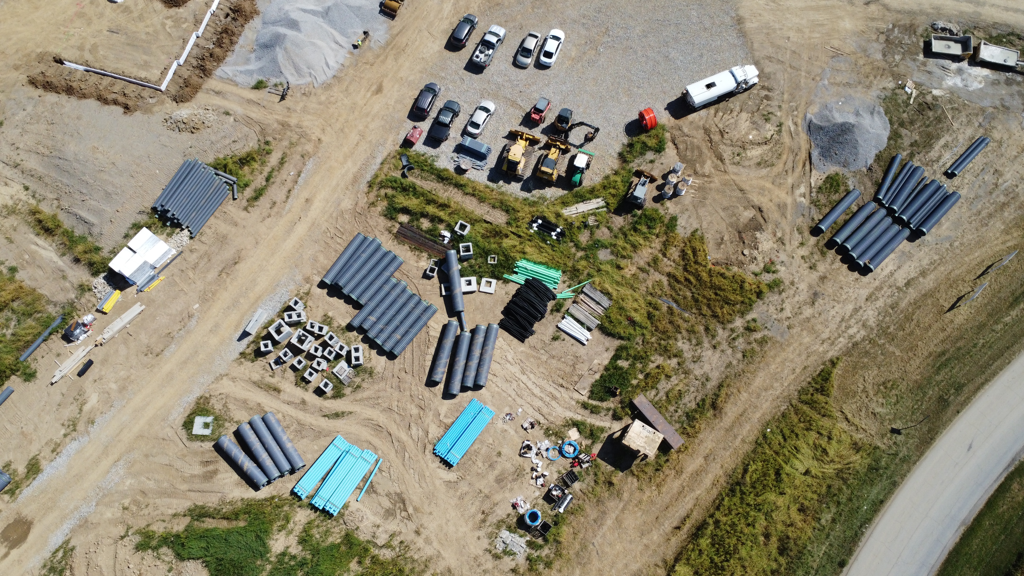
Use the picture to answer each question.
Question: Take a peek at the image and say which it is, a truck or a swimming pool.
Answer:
truck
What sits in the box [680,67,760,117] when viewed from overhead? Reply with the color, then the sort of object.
white truck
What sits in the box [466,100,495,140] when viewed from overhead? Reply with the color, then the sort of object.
white car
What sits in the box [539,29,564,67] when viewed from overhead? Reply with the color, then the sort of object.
white car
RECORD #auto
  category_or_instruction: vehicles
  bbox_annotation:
[429,98,460,144]
[413,82,441,120]
[530,98,553,127]
[466,100,495,140]
[378,0,406,15]
[516,30,542,69]
[624,169,660,211]
[500,132,542,180]
[680,67,760,117]
[566,150,592,191]
[452,14,480,50]
[550,109,599,143]
[536,138,571,182]
[539,29,564,67]
[472,24,506,70]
